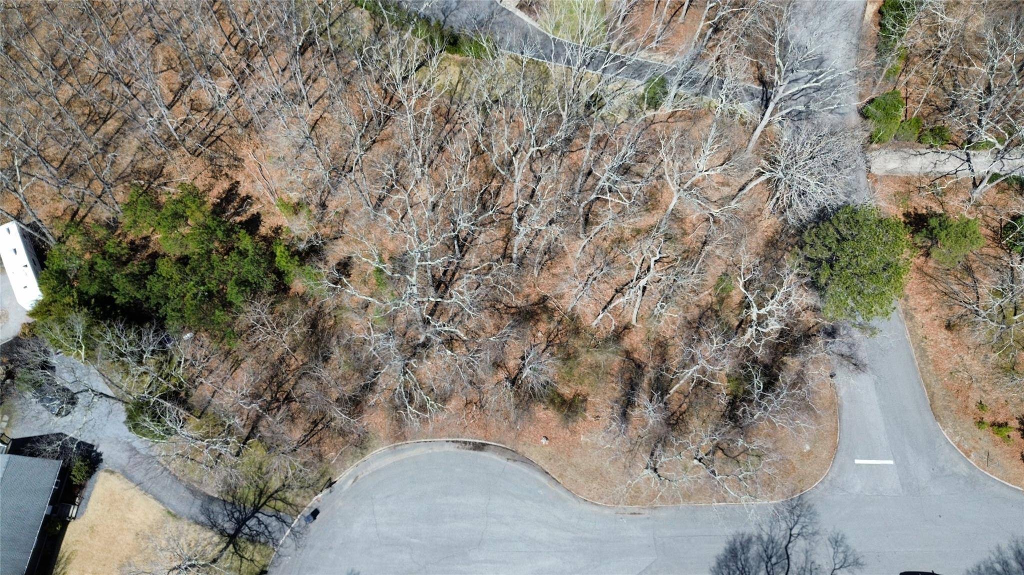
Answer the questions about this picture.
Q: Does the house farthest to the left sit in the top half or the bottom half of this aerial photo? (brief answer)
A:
bottom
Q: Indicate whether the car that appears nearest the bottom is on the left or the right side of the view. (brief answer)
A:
left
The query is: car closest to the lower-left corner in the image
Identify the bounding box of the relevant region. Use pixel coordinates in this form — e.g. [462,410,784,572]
[31,383,74,419]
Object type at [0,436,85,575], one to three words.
house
